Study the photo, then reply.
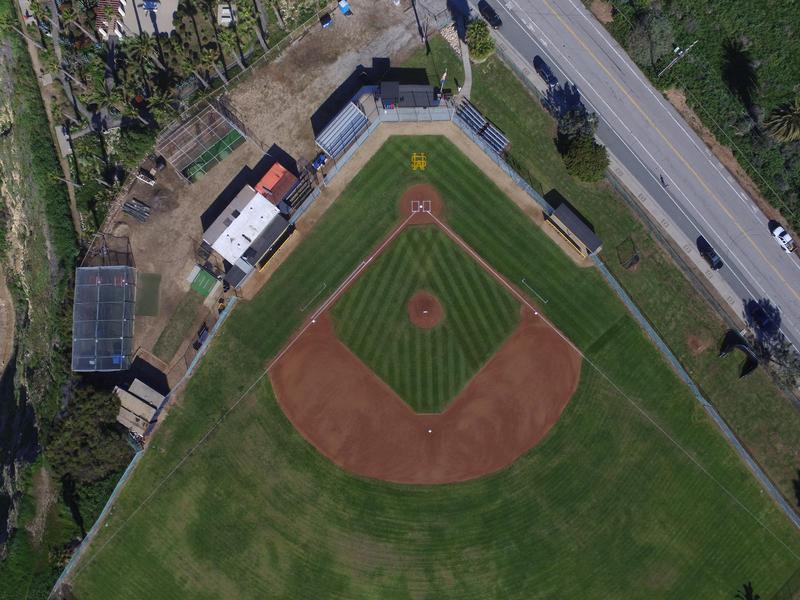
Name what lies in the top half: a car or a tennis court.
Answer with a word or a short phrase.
car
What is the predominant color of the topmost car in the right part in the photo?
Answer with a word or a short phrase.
black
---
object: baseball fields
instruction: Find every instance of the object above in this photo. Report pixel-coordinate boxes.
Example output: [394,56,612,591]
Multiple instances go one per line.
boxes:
[53,123,800,600]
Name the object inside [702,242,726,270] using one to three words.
car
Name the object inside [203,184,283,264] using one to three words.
building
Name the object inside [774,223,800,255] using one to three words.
truck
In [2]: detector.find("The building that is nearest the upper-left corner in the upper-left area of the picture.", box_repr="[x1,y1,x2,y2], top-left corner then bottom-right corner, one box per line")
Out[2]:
[97,0,135,45]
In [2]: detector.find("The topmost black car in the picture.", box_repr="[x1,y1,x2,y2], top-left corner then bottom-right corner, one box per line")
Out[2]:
[479,0,503,26]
